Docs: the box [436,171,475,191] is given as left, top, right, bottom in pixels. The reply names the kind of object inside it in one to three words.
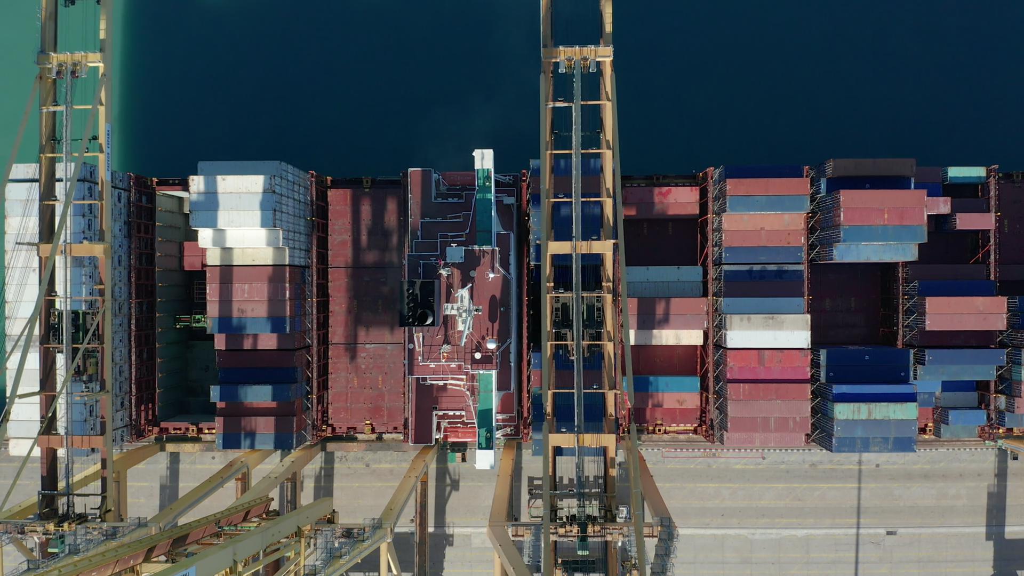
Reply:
boat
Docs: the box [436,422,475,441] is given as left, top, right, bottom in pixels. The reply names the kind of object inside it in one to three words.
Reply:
boat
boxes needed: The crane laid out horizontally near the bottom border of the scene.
[42,437,464,576]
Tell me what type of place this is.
port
